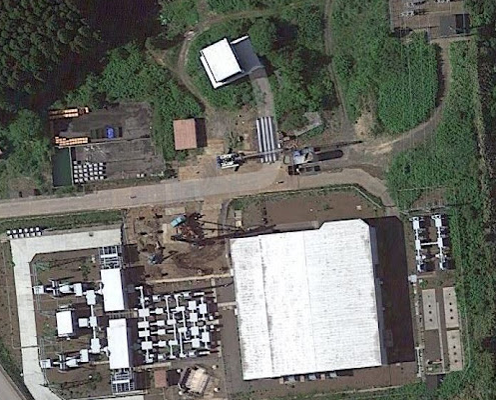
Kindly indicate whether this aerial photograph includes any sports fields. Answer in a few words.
No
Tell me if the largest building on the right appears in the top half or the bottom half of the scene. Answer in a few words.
bottom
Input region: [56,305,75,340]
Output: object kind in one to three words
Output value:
building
